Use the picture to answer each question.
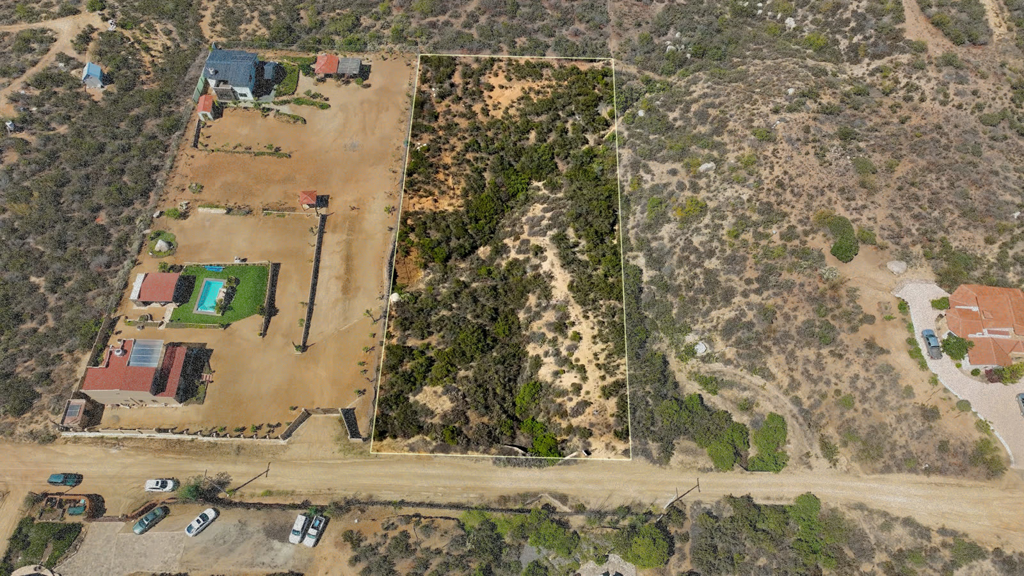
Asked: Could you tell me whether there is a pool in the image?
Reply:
Yes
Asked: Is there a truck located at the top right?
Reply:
No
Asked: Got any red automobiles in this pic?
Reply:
No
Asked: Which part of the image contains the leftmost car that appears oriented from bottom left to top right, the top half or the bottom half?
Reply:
bottom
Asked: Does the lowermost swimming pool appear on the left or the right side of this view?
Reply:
left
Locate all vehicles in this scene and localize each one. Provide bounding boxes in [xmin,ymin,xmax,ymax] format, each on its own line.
[302,510,328,550]
[141,477,175,492]
[184,507,216,538]
[131,506,164,534]
[45,470,80,486]
[925,328,945,358]
[288,512,309,546]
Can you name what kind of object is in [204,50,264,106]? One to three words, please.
house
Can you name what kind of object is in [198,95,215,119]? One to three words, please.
shed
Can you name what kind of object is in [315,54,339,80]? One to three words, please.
building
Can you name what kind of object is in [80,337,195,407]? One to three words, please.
house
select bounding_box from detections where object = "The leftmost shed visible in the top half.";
[83,62,106,88]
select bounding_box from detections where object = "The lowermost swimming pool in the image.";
[193,278,226,316]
